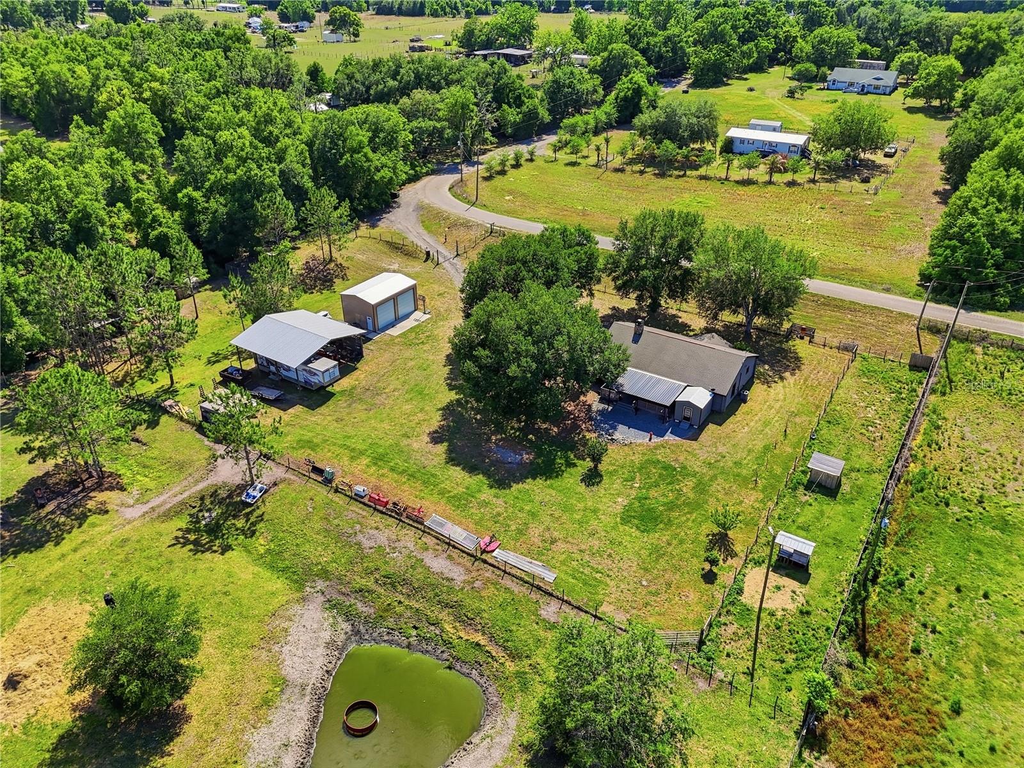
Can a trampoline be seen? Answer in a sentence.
No, no trampoline is visible in the view.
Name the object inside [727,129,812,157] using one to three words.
house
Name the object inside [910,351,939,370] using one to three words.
shed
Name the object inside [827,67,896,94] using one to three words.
house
